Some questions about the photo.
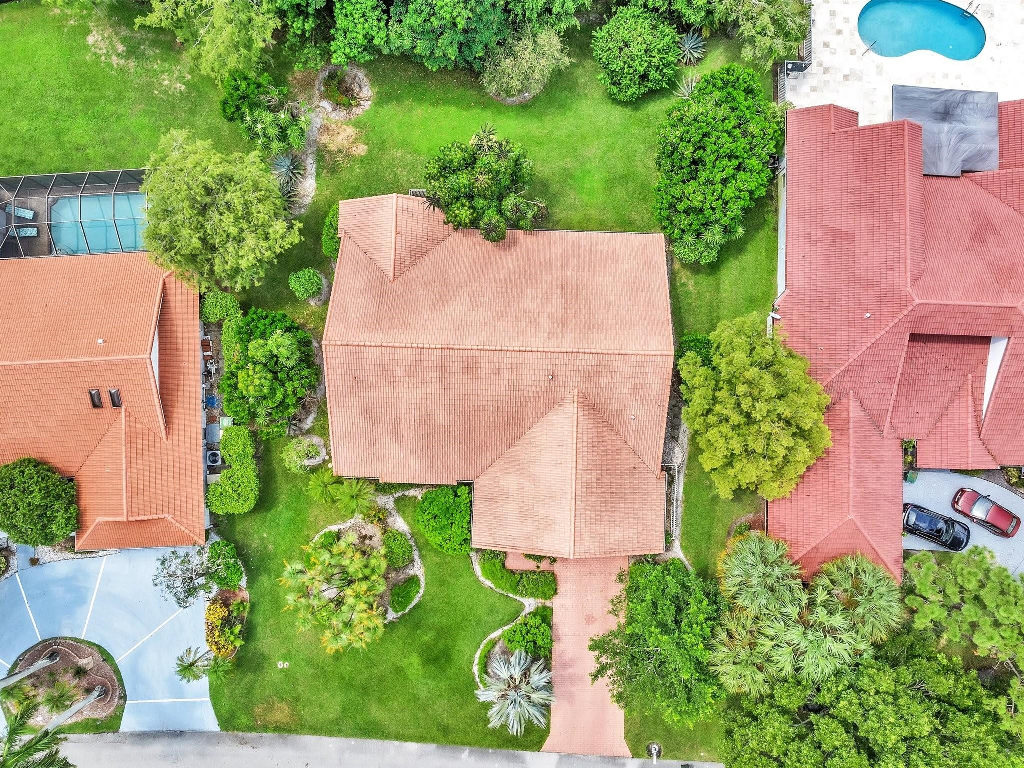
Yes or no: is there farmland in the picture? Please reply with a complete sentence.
No, no farmland is visible.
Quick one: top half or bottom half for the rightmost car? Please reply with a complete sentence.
You can find the rightmost car in the bottom half.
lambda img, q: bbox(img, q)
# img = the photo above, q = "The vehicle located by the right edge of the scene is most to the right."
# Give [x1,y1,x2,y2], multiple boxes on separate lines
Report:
[955,488,1024,544]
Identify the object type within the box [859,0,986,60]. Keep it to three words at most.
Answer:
swimming pool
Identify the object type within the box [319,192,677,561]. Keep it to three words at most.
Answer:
house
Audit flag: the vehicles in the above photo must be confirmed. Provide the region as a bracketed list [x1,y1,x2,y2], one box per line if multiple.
[955,488,1024,544]
[903,501,981,554]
